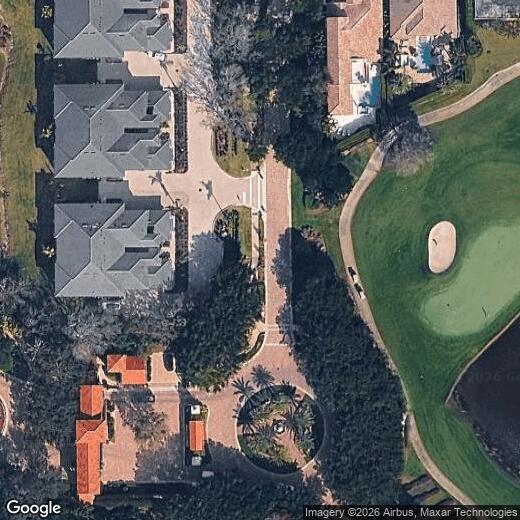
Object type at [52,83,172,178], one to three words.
house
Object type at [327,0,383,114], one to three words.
house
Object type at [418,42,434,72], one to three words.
swimming pool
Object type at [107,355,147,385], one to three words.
building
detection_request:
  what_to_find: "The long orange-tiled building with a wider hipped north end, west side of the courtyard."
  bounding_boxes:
[75,420,107,505]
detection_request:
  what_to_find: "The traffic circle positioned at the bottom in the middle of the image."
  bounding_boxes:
[222,373,335,488]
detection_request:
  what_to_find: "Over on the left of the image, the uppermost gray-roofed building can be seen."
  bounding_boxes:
[53,0,172,57]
